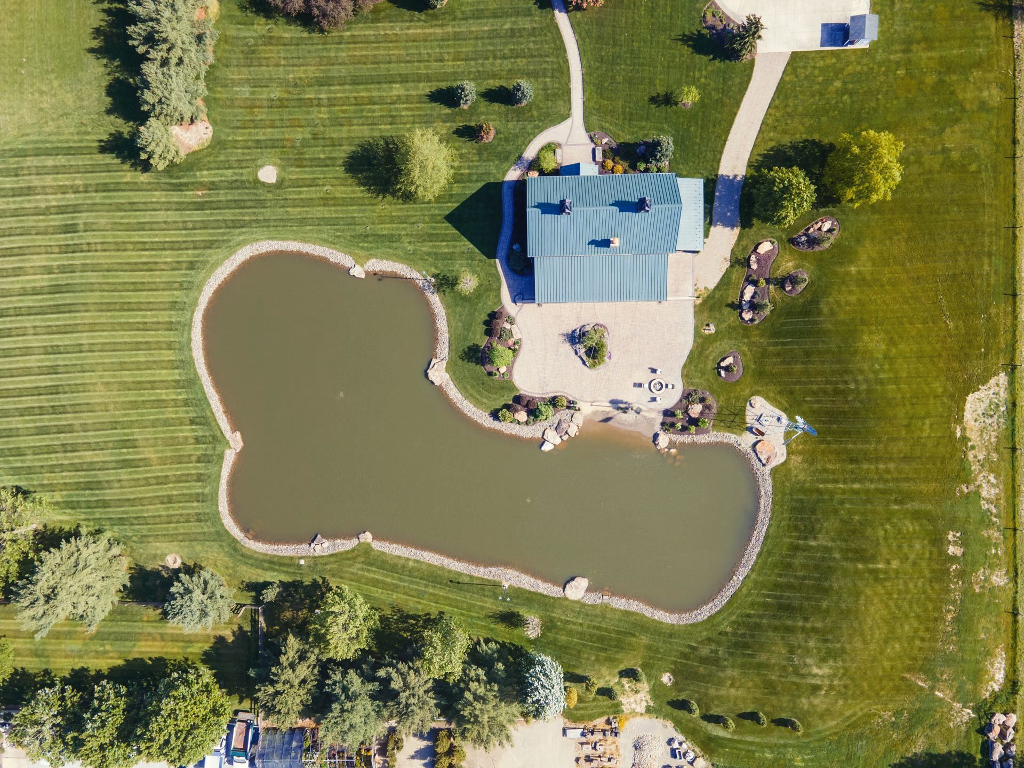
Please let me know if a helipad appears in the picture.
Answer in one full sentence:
No, the picture doesn't show any helipad.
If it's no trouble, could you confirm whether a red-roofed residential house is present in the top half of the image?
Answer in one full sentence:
No, in the top half of the image there is no red-roofed residential house.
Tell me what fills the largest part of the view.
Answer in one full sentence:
The scene is dominated by grass.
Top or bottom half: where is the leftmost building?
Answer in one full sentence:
You can find the leftmost building in the bottom half.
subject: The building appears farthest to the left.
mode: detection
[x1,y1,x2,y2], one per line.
[249,727,304,768]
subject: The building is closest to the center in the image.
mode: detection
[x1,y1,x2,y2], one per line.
[526,162,704,305]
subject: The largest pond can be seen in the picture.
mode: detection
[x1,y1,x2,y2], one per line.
[209,258,753,605]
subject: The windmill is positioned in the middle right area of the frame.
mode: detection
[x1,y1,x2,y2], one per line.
[753,407,820,447]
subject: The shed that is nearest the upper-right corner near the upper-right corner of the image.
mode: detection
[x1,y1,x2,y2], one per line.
[846,11,880,46]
